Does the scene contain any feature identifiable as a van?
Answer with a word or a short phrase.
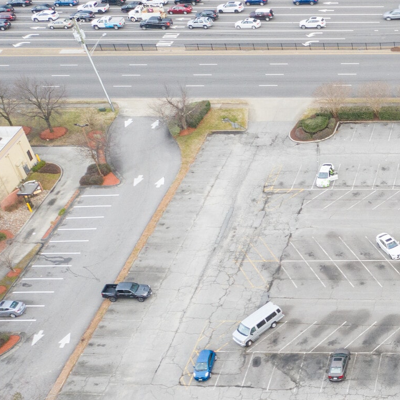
Yes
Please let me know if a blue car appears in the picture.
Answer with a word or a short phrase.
Yes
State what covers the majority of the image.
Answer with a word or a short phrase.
paved ground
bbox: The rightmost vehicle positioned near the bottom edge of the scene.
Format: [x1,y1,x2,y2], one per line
[326,347,351,383]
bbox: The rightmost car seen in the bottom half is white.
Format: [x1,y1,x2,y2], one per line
[375,231,400,258]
